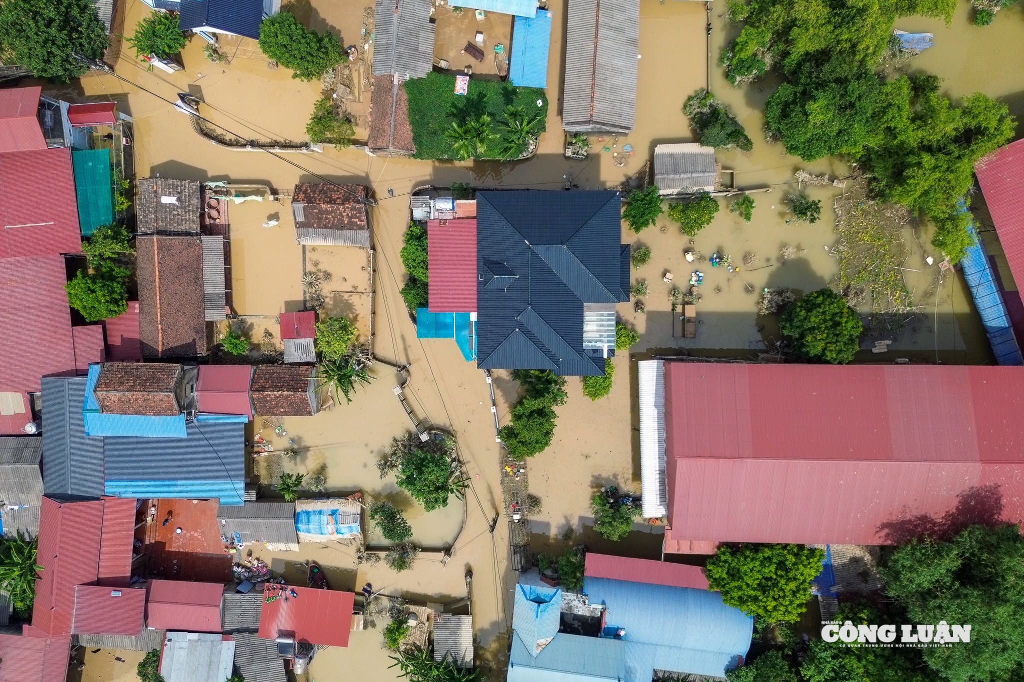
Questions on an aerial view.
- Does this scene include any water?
Yes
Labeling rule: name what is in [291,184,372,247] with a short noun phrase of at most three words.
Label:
house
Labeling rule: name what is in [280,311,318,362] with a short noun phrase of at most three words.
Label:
shed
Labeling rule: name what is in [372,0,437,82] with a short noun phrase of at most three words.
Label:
house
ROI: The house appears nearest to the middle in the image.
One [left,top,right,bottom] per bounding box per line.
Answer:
[411,190,631,377]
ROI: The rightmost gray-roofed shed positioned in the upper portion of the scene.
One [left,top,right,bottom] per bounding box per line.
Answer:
[654,143,721,197]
